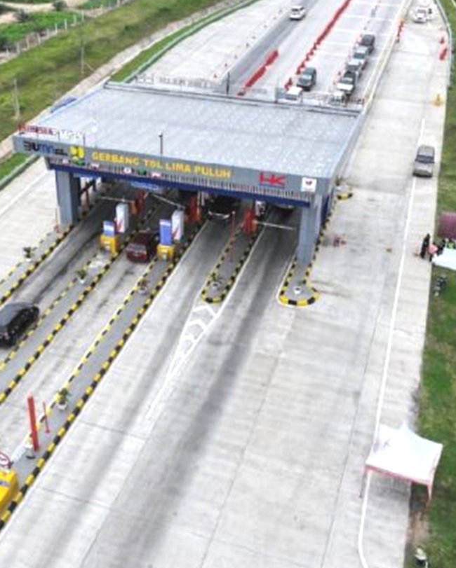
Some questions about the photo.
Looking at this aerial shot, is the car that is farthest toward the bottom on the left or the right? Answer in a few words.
left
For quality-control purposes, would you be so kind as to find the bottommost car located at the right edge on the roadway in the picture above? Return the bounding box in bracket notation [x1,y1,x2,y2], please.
[413,140,440,174]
